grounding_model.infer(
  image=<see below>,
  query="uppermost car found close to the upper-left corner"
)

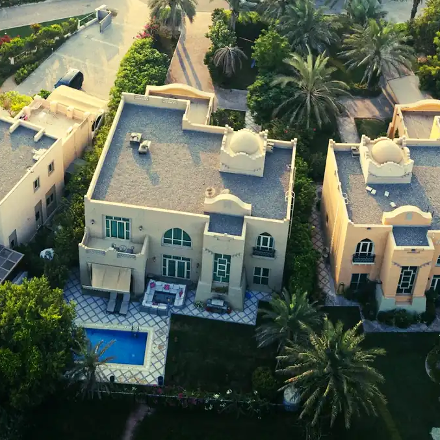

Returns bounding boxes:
[46,62,91,88]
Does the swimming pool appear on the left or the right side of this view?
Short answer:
left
